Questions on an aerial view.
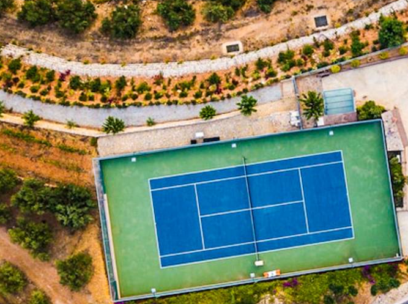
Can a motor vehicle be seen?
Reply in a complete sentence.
No, no motor vehicle is visible in the scene.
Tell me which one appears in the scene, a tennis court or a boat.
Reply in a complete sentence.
The image shows a tennis court.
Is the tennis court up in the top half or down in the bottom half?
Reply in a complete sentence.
You can find the tennis court in the bottom half.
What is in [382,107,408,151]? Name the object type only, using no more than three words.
shed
